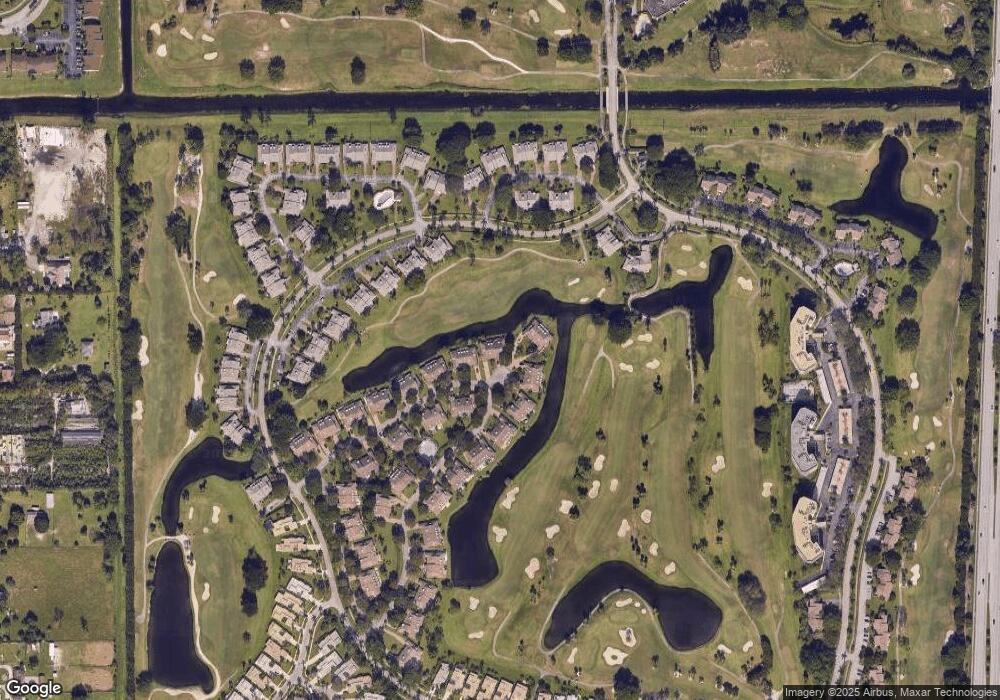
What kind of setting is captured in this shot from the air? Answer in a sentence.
It's a golf course.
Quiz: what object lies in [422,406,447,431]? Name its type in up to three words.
house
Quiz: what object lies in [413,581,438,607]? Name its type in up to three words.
house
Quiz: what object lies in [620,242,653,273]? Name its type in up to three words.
building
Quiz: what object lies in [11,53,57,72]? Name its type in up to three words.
building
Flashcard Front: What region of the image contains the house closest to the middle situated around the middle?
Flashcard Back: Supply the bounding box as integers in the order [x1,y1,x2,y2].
[479,337,504,359]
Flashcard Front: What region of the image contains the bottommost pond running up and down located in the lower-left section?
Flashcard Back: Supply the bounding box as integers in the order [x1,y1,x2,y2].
[148,540,215,694]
